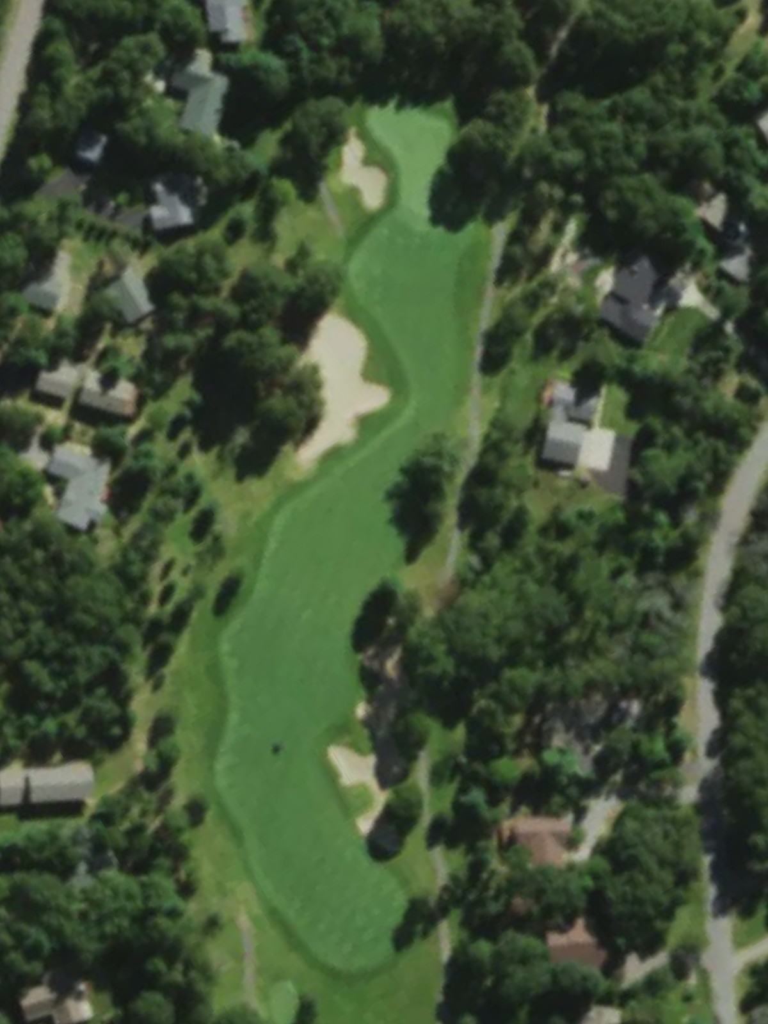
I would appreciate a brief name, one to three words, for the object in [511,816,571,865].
house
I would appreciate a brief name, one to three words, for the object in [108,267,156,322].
house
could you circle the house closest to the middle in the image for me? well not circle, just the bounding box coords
[543,383,605,463]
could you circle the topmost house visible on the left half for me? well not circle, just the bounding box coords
[207,0,248,43]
